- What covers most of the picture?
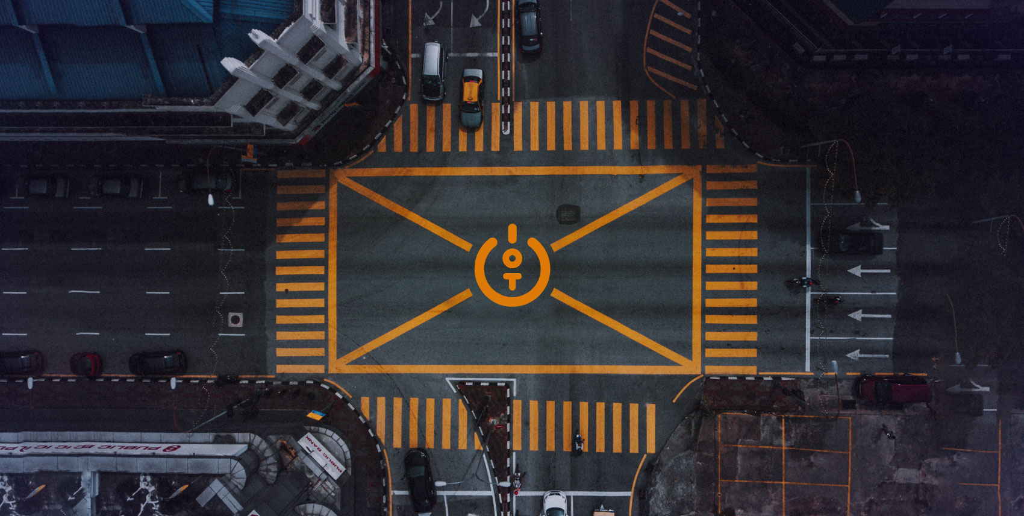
paved ground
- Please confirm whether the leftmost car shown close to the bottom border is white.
No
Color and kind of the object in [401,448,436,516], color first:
black car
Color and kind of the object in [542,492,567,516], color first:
white car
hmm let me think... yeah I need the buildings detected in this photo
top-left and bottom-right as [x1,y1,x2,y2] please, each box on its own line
[0,424,357,516]
[764,0,1024,50]
[0,0,383,145]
